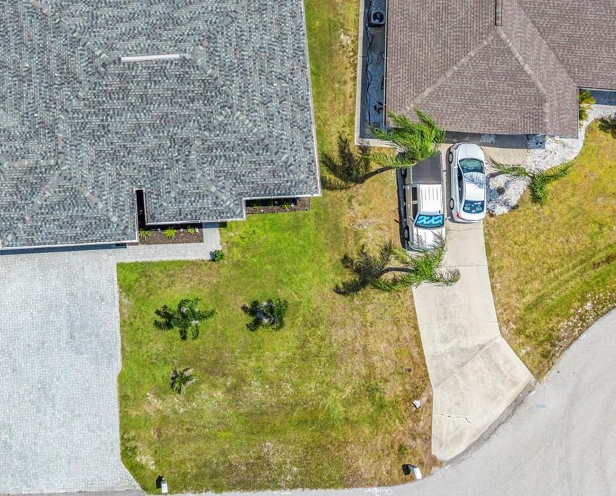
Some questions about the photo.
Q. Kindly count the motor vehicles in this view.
2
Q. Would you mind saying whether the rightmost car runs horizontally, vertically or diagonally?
vertically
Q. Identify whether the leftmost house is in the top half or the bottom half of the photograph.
top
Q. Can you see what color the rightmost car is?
white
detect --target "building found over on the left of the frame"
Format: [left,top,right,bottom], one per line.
[0,0,326,251]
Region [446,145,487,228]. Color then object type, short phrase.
white car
